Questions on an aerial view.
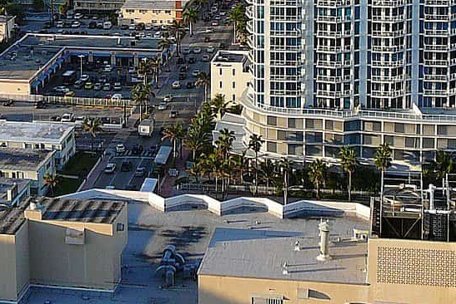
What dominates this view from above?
buildings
